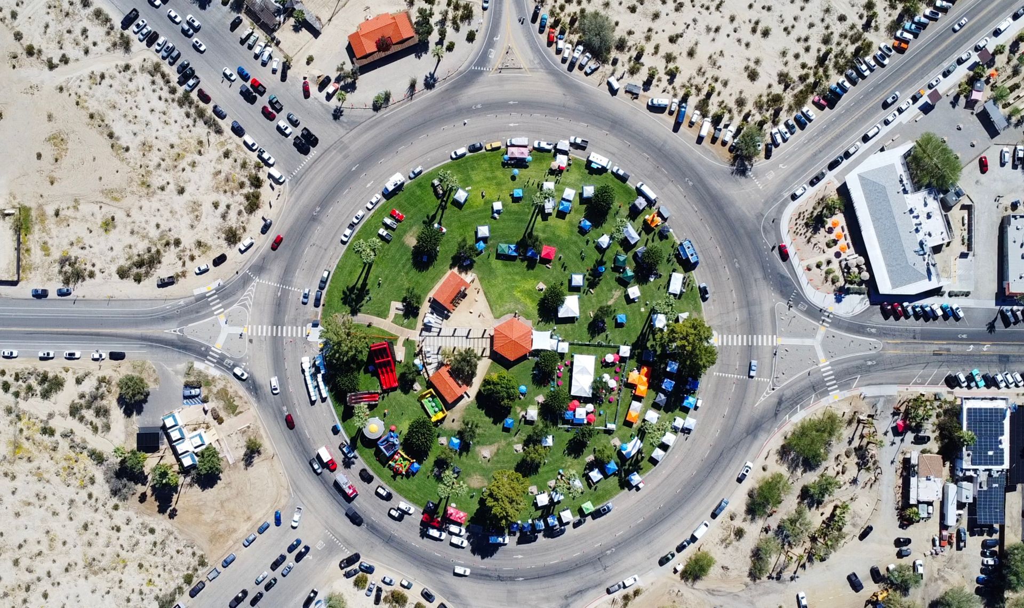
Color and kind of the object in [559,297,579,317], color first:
white tent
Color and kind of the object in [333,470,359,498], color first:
white truck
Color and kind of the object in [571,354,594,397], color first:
white tent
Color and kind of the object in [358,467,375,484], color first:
black car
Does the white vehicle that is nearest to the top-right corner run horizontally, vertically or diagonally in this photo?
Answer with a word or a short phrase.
diagonally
